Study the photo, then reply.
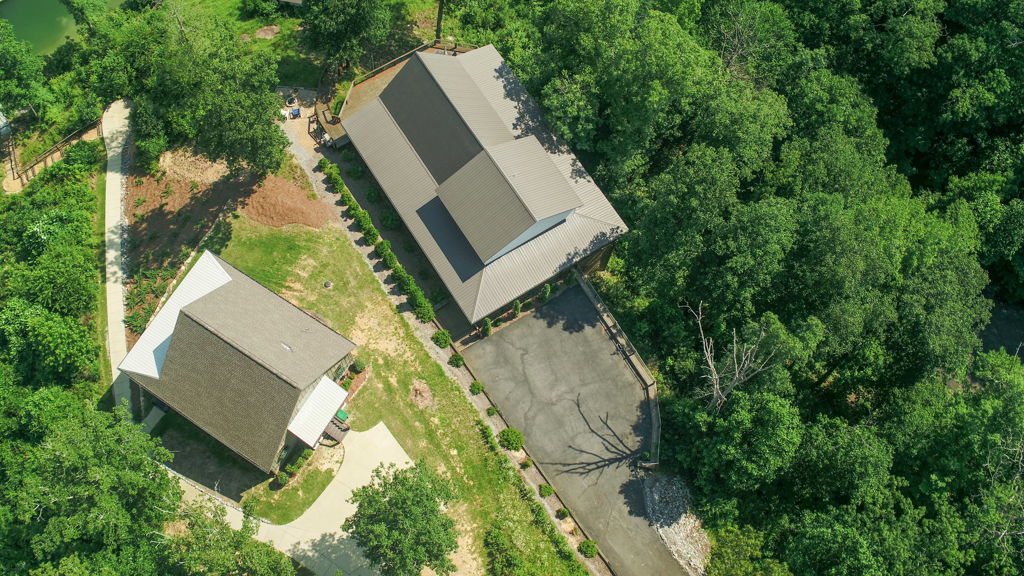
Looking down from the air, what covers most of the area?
trees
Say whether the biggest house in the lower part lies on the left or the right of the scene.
left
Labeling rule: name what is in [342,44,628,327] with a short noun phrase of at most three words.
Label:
house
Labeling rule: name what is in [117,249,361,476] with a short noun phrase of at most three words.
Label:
house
